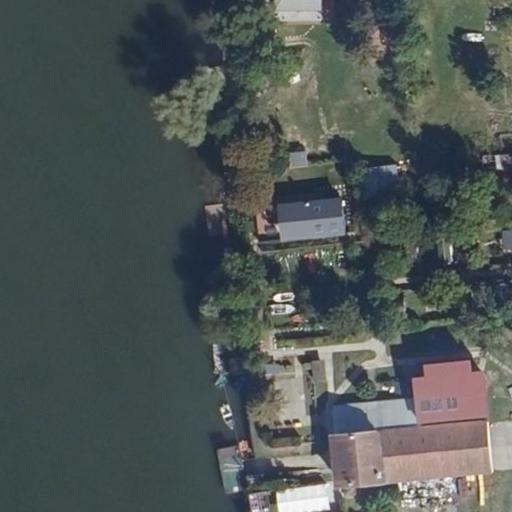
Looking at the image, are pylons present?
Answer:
No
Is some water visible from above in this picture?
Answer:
Yes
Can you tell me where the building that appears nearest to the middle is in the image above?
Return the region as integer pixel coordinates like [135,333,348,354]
[276,196,347,246]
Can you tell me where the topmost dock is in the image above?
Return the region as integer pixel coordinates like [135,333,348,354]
[205,204,228,240]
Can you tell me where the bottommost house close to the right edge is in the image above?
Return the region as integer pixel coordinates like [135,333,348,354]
[378,420,494,486]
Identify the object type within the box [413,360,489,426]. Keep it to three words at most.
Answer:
building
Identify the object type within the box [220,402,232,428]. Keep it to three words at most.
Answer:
boat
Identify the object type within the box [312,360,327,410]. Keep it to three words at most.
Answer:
shed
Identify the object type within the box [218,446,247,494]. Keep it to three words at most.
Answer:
pier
